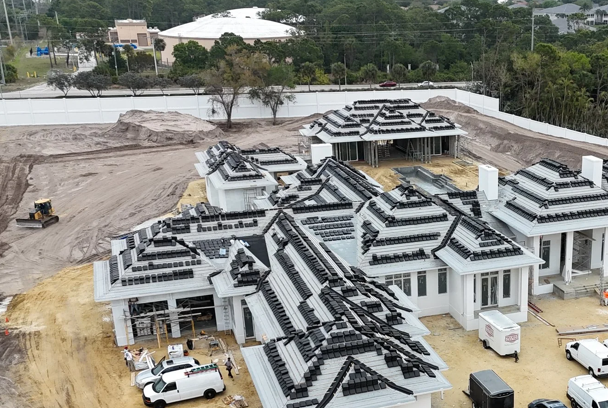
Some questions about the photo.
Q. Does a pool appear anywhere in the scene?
Yes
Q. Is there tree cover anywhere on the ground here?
Yes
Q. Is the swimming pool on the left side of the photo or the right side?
right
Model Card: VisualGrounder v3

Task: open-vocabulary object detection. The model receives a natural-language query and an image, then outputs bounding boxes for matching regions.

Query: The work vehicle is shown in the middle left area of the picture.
[18,198,60,230]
